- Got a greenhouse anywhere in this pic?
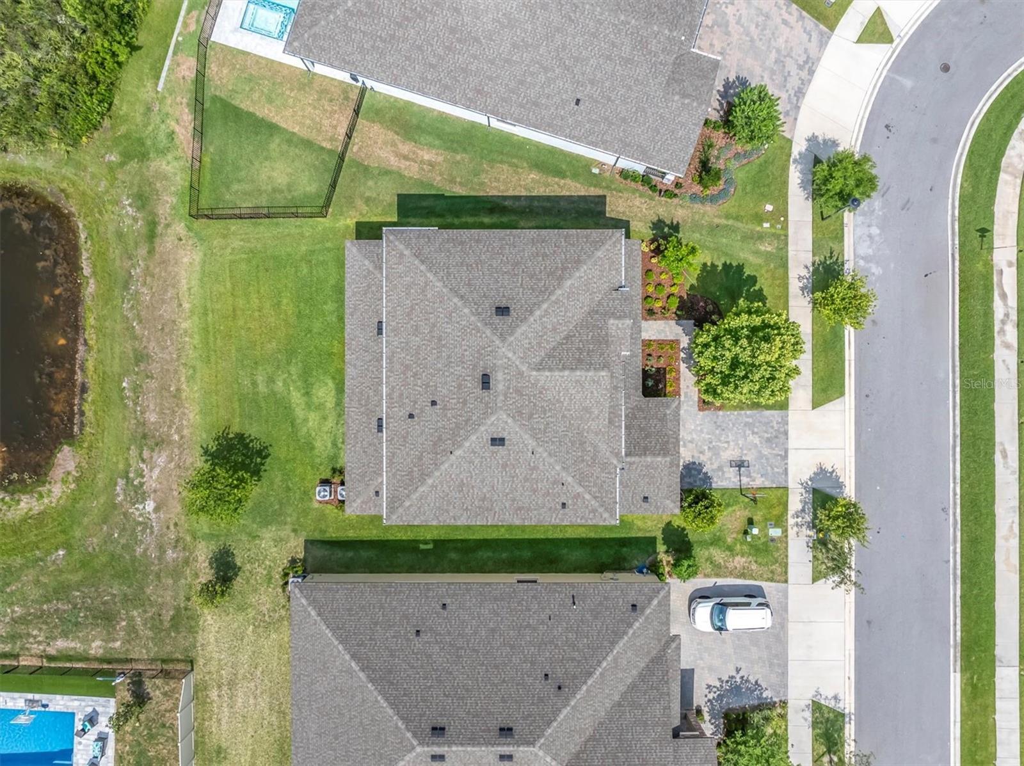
No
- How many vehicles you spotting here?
one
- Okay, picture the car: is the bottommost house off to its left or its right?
left of it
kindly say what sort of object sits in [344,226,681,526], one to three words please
house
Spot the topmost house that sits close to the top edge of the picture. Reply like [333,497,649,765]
[283,0,719,181]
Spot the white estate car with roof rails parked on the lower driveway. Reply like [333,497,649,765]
[690,596,770,635]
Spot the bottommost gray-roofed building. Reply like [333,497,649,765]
[288,573,717,766]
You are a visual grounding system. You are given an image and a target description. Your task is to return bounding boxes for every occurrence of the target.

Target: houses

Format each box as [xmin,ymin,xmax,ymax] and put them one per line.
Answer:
[288,573,717,766]
[344,226,681,526]
[283,0,719,181]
